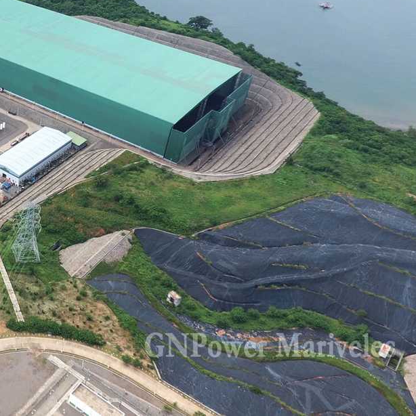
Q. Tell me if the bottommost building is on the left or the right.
left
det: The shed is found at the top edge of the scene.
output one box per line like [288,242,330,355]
[0,0,254,163]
